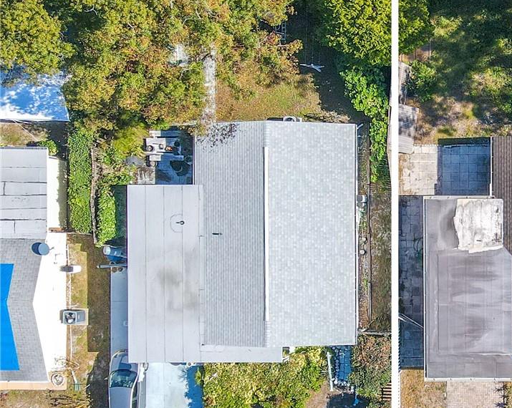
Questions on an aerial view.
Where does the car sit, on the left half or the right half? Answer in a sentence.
The car is on the left side of the image.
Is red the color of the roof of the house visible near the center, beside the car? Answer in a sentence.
No, the color of the roof of the house visible near the center, beside the car is white.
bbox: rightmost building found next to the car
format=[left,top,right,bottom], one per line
[99,121,362,362]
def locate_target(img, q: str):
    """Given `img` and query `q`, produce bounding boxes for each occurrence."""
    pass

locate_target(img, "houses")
[0,146,67,382]
[99,121,362,362]
[423,136,512,382]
